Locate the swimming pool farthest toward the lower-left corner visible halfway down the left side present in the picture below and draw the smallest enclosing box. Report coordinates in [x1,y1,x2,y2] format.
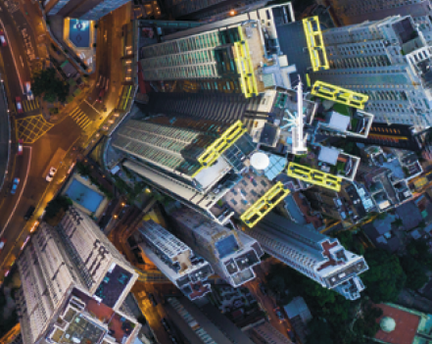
[64,177,102,213]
